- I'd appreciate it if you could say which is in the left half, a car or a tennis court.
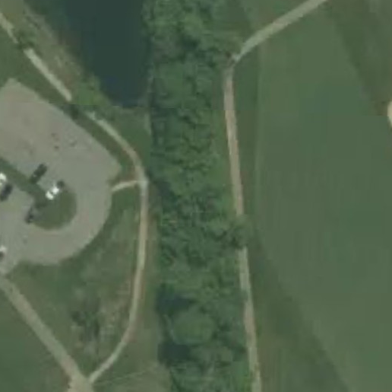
car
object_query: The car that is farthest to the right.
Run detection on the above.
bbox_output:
[45,181,63,201]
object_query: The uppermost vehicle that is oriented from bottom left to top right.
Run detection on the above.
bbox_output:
[30,164,46,184]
